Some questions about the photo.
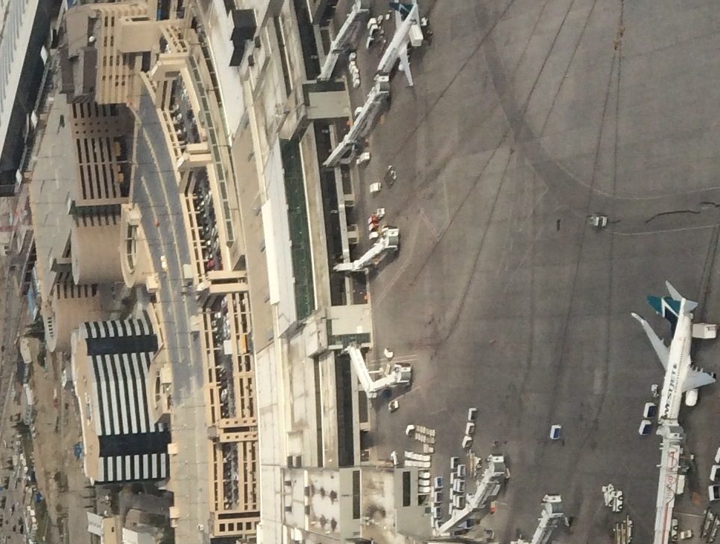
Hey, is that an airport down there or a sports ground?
airport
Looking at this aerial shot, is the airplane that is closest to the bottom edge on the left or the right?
right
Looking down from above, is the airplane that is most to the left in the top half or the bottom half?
top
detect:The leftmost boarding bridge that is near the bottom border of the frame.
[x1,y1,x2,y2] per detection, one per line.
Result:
[434,454,518,539]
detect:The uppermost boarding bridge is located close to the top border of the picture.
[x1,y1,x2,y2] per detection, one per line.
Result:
[322,0,377,84]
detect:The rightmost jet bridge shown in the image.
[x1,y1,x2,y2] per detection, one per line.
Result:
[657,417,708,544]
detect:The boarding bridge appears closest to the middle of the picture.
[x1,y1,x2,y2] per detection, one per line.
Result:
[336,229,406,275]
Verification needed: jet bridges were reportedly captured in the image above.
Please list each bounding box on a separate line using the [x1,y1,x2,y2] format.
[347,342,421,393]
[327,71,399,168]
[434,454,518,539]
[534,490,577,544]
[336,229,406,275]
[322,0,377,84]
[657,417,708,544]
